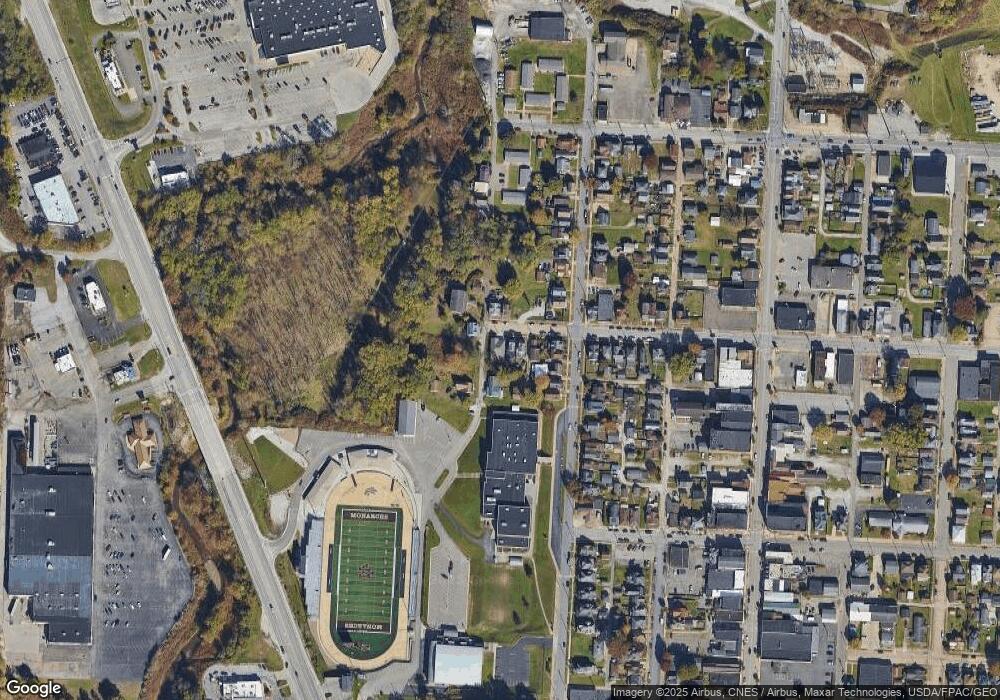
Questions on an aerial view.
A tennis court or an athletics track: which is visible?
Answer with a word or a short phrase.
athletics track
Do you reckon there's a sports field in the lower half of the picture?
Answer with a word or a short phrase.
Yes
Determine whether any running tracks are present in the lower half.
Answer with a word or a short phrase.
Yes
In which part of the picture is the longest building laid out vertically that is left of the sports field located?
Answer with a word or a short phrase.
bottom left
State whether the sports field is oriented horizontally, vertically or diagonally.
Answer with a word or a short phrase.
vertically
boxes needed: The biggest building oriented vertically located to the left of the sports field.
[7,431,94,643]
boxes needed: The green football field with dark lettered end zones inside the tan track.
[328,505,404,658]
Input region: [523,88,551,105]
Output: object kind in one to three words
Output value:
house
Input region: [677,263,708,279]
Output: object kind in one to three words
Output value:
house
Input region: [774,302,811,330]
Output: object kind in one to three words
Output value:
building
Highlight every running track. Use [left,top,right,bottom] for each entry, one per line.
[319,472,414,670]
